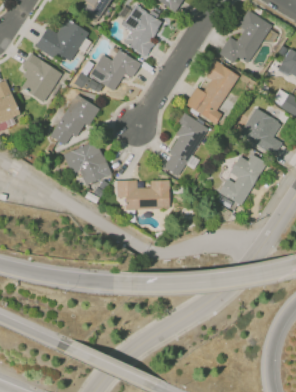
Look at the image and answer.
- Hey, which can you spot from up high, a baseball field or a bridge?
bridge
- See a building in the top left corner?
Yes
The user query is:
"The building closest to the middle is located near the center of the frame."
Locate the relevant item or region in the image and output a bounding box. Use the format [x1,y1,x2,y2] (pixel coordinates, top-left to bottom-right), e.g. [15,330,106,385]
[118,180,172,210]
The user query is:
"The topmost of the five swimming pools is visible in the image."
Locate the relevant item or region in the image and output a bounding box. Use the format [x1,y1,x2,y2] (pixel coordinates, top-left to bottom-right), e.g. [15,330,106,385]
[111,22,124,41]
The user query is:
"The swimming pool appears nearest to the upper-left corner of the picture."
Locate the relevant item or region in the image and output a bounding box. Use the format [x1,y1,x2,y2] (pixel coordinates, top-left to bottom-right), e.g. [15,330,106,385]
[62,56,82,72]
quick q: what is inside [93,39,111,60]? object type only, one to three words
swimming pool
